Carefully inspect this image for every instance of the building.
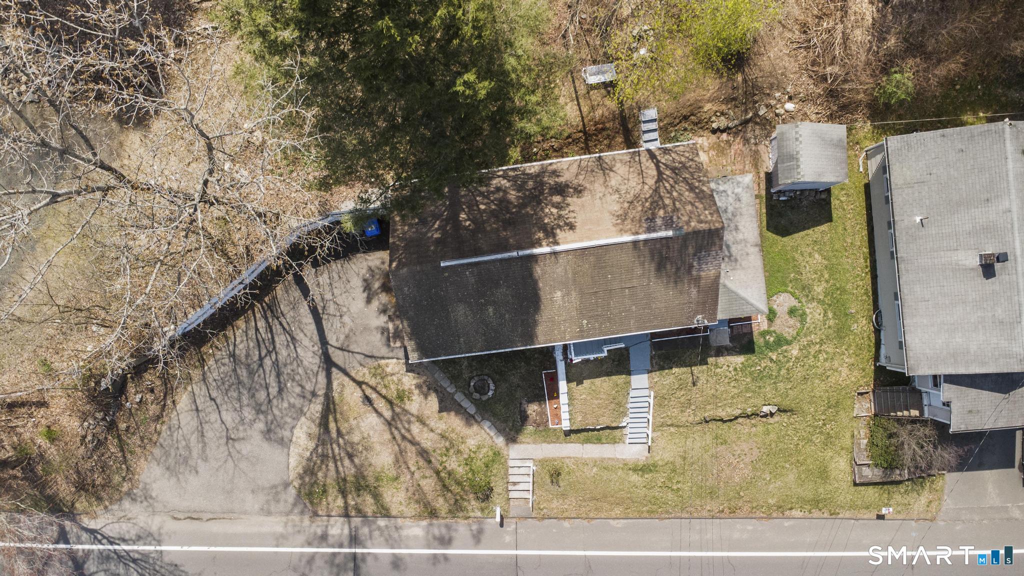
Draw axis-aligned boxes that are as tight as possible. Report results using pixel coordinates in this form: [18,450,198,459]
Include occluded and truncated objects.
[761,120,846,189]
[850,122,1024,434]
[386,140,769,364]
